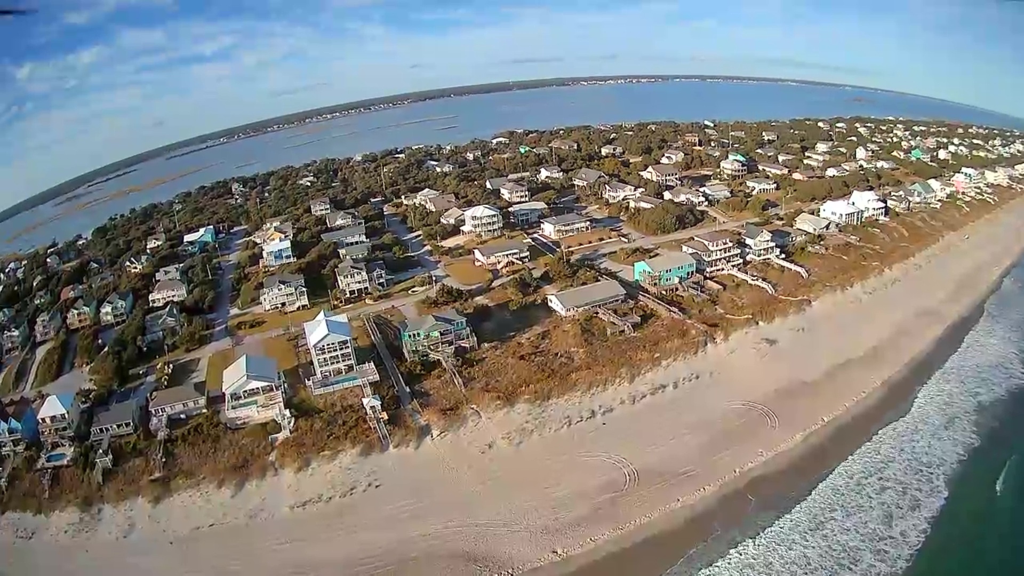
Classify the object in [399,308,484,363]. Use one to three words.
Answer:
house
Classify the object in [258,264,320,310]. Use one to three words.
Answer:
house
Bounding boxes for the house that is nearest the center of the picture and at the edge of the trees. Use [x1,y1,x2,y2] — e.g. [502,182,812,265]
[476,236,532,272]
